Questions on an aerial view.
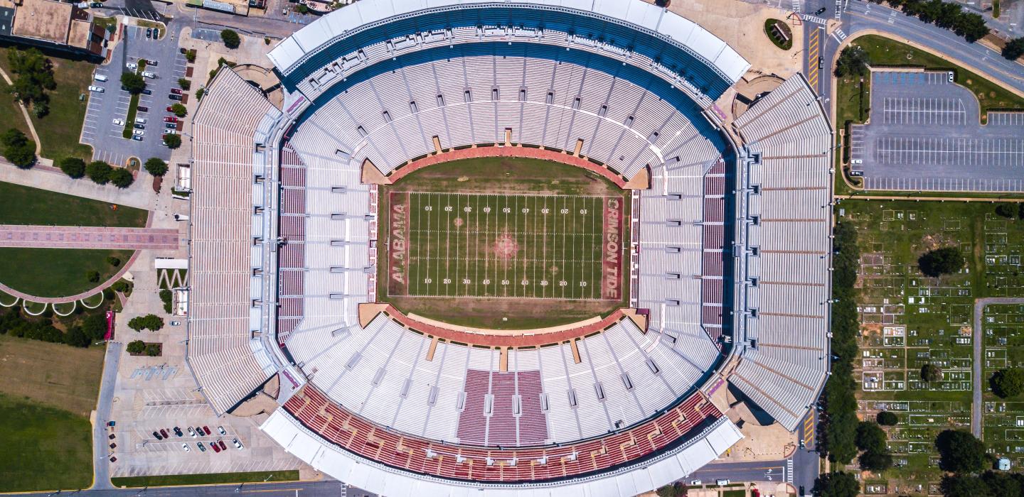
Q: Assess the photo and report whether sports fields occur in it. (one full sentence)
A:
Yes, there is a sports field in the image.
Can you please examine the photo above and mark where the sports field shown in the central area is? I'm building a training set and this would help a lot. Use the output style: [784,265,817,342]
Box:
[378,156,631,331]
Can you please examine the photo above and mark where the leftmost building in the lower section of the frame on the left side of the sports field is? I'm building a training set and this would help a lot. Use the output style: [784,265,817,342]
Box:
[171,286,187,316]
